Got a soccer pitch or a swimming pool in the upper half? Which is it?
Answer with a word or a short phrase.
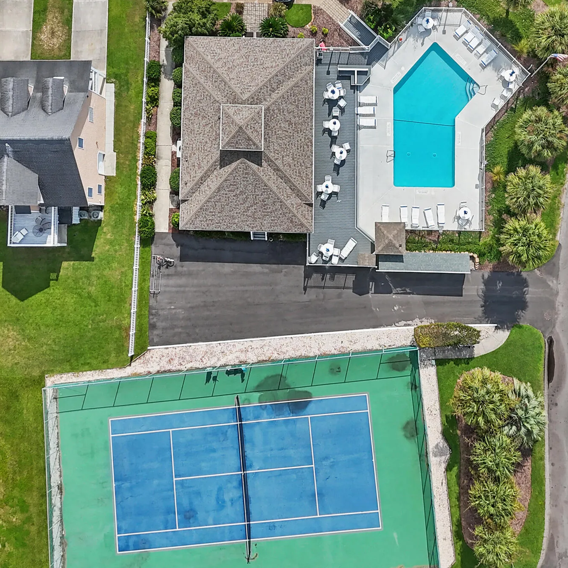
swimming pool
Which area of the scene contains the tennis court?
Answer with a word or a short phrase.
bottom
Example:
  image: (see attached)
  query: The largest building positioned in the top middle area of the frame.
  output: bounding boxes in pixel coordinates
[178,30,315,242]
